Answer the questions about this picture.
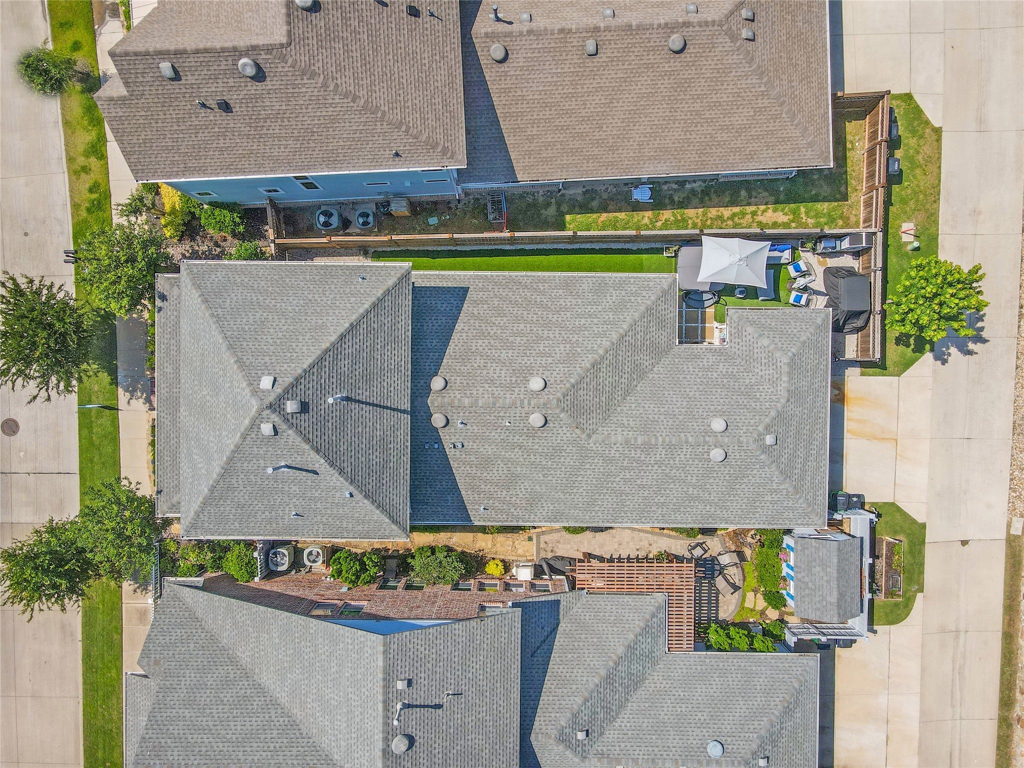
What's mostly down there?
buildings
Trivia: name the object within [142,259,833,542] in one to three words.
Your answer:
house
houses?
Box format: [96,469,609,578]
[96,0,833,210]
[142,259,833,542]
[123,572,821,768]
